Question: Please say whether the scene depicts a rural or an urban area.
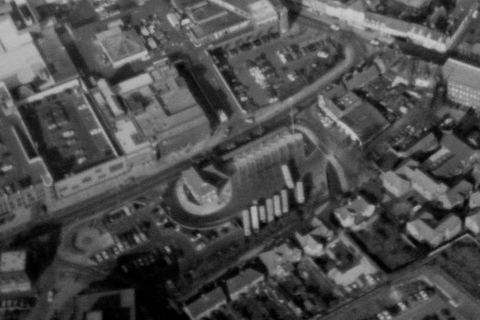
urban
